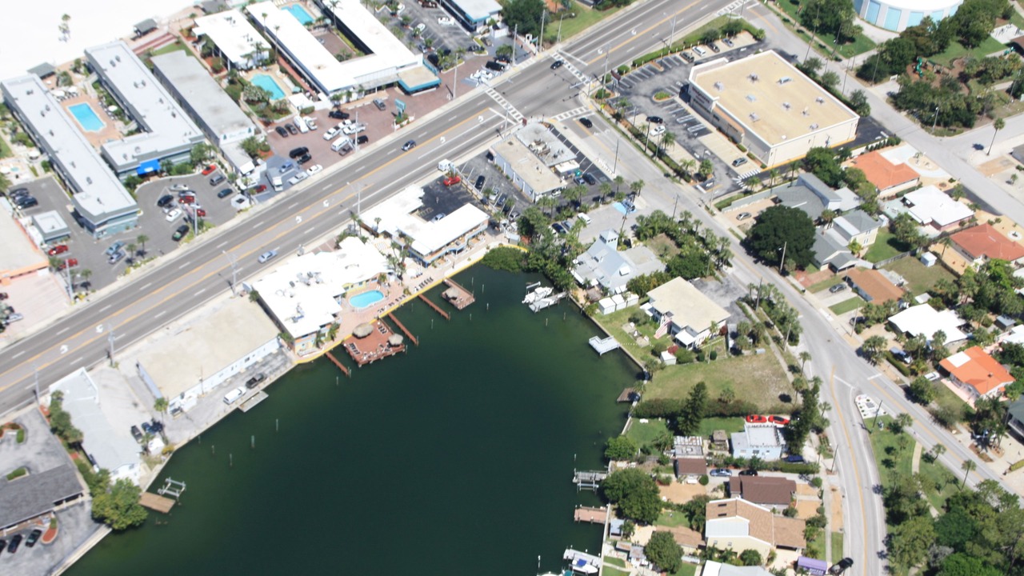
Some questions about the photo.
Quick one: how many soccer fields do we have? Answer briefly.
0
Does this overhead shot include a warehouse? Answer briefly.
Yes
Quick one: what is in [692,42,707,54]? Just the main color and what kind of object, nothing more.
white vehicle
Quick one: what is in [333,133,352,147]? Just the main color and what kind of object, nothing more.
white vehicle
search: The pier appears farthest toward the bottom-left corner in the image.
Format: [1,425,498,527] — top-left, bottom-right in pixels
[139,490,176,517]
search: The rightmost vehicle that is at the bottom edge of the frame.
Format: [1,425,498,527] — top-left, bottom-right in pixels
[830,554,855,571]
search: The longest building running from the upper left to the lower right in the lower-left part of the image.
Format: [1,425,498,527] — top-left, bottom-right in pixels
[49,366,139,483]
